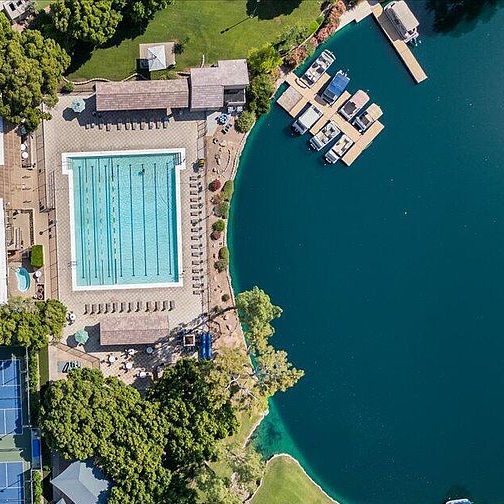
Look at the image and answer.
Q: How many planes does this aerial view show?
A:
0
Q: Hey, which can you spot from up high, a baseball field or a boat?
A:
boat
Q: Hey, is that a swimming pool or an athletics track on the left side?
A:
swimming pool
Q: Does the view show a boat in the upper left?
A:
No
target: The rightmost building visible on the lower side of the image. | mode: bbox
[99,316,170,345]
